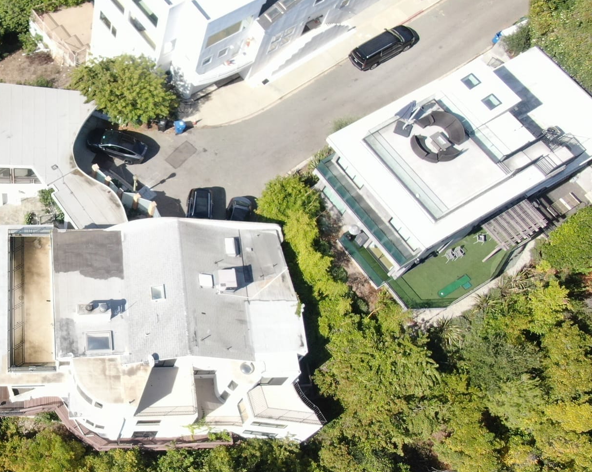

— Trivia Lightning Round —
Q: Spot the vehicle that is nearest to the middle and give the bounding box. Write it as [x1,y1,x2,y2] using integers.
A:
[228,191,258,220]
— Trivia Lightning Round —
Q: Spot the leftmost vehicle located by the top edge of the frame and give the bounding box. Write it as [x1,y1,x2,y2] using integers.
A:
[353,19,425,69]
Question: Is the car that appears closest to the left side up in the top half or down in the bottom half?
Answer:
top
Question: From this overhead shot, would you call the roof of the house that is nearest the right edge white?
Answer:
Yes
